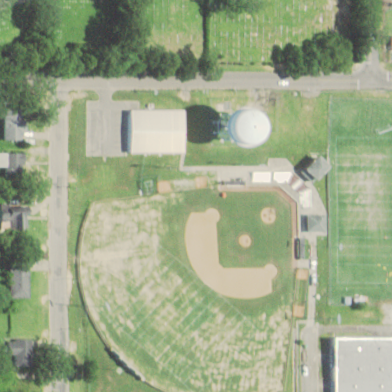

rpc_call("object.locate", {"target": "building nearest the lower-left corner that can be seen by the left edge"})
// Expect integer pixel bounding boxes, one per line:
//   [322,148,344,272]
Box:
[9,340,32,366]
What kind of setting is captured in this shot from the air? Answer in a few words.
sports ground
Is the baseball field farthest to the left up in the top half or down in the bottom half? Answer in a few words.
bottom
